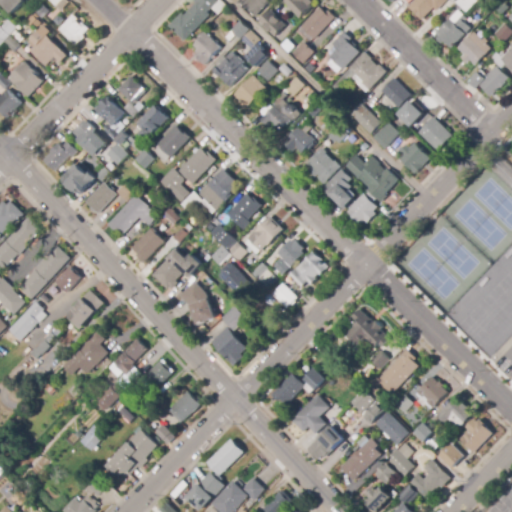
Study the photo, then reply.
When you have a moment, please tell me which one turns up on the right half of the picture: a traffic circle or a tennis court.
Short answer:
tennis court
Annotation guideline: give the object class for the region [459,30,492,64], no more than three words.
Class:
house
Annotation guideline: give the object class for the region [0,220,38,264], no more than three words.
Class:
building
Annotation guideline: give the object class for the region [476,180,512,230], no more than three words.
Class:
tennis court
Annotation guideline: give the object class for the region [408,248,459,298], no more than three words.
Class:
tennis court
